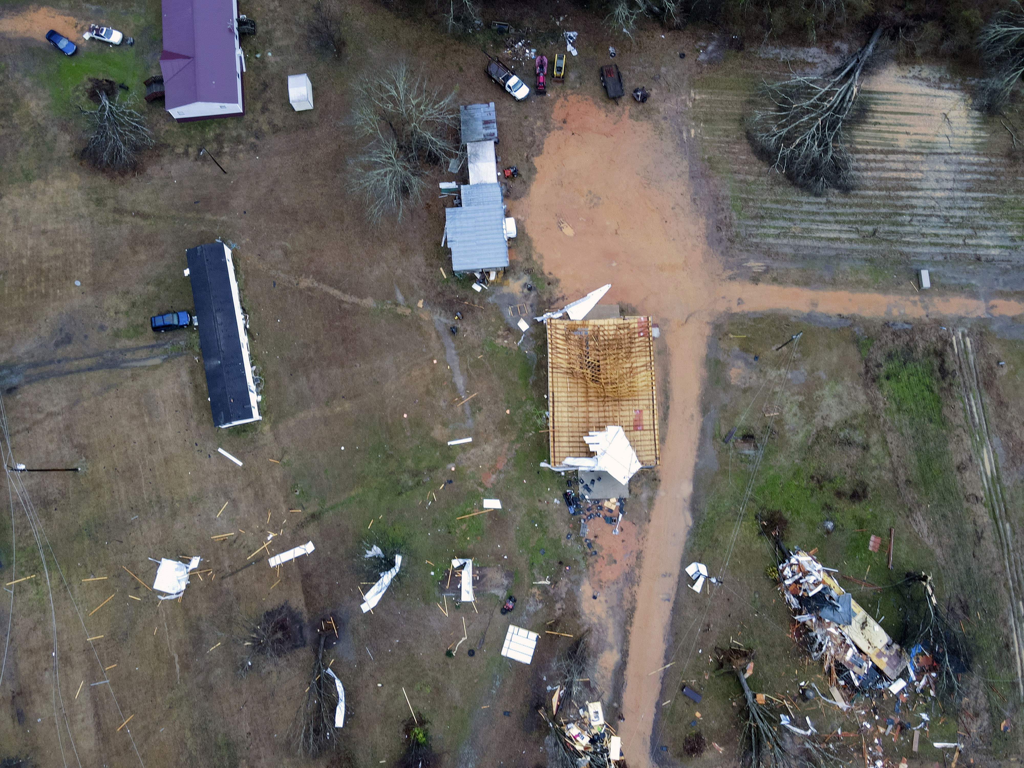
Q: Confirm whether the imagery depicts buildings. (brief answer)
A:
Yes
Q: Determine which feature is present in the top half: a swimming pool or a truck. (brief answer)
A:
truck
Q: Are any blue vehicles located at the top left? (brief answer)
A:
Yes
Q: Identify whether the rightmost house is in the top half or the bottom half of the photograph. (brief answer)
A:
bottom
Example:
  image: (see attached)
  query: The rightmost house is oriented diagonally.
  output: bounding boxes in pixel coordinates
[798,547,910,679]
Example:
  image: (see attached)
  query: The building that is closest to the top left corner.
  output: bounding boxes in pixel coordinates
[157,0,246,122]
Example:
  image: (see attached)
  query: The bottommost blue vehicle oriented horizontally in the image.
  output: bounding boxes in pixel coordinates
[149,310,193,331]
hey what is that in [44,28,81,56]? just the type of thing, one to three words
car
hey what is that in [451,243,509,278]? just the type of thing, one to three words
shed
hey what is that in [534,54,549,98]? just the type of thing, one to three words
work vehicle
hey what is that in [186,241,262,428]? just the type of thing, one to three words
house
